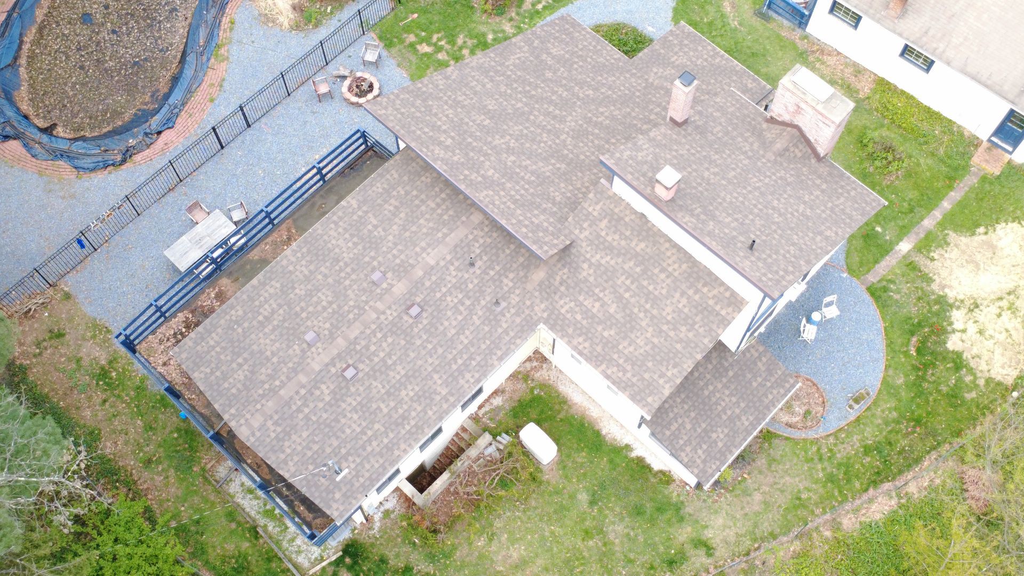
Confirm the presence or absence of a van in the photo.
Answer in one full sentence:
No, I can't see a single van in this photo.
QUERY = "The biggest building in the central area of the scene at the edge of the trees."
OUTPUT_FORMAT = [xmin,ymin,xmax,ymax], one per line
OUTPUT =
[169,13,888,526]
